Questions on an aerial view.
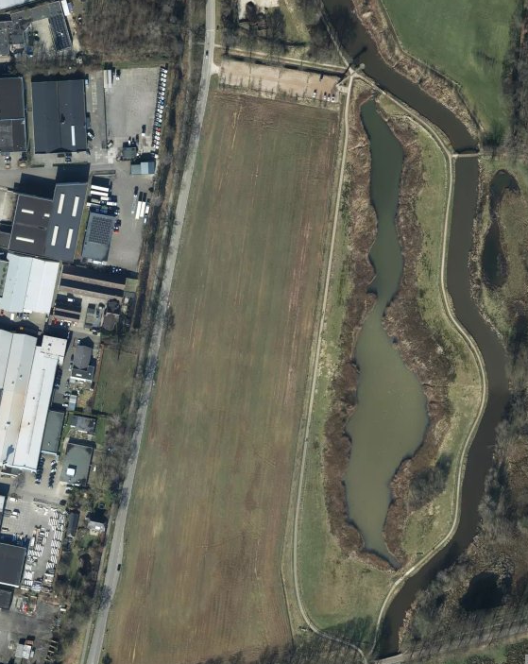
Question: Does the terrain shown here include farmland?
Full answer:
Yes, the picture does contain farmland.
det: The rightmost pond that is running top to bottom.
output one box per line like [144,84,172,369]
[482,170,517,288]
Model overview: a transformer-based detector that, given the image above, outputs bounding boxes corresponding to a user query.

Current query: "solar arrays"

[89,217,113,243]
[51,15,71,47]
